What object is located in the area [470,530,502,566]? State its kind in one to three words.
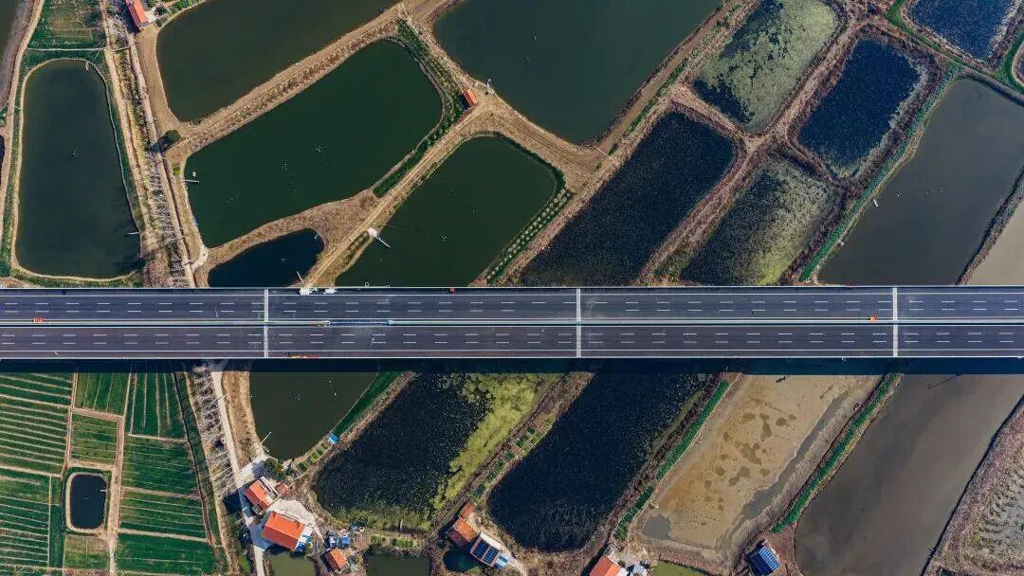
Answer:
barn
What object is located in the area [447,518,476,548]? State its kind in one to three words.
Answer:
house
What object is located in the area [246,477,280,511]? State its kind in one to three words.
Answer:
house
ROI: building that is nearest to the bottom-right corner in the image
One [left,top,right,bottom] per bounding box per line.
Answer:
[749,544,780,576]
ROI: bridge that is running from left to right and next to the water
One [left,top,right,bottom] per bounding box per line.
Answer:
[0,286,1024,359]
